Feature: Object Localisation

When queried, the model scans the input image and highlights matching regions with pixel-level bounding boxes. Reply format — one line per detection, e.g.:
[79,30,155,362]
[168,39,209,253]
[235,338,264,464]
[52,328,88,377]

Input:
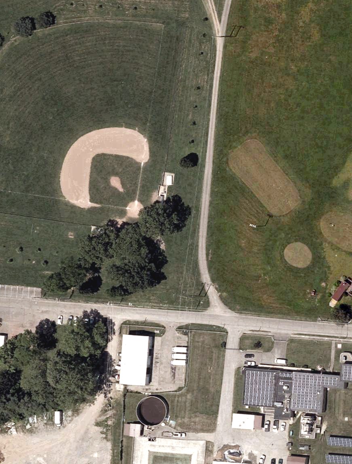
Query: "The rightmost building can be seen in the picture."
[329,277,352,307]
